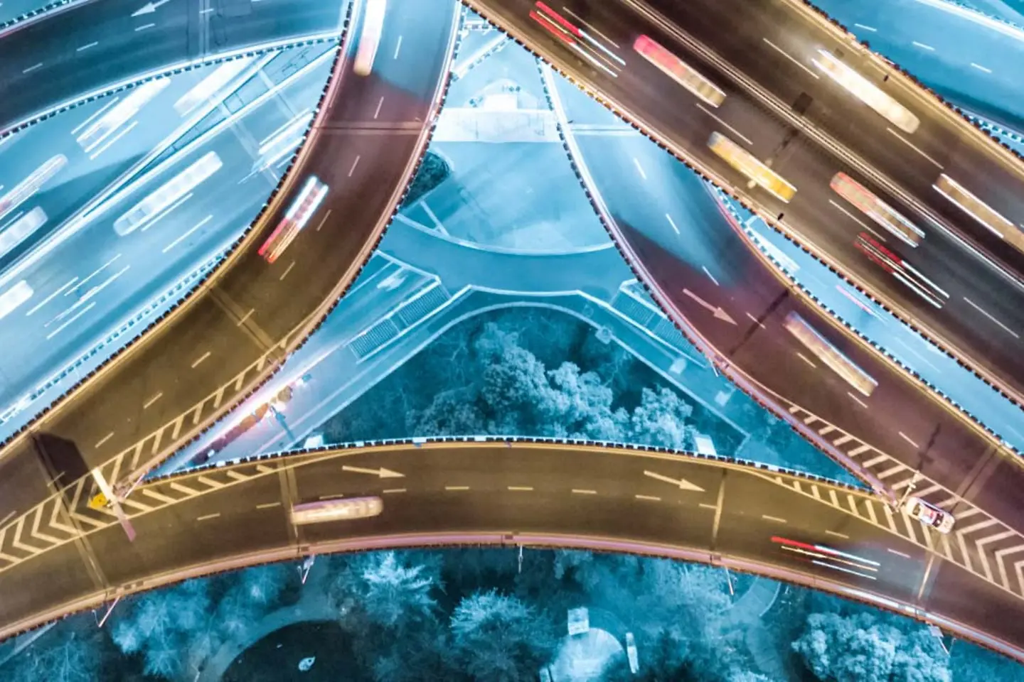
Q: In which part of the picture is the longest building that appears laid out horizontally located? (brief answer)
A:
top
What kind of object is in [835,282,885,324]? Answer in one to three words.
car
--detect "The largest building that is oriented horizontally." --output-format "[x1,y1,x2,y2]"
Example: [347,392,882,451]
[429,94,561,144]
